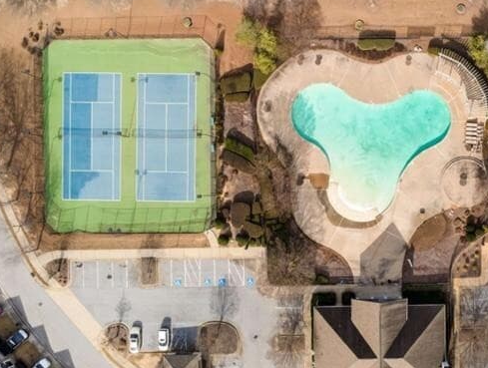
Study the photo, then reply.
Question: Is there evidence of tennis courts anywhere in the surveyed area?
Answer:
Yes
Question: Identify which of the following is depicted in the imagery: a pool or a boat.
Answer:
pool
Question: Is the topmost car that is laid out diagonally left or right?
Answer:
left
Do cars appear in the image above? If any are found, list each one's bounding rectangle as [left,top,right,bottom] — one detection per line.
[0,328,27,350]
[29,357,50,368]
[127,328,140,354]
[155,328,169,352]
